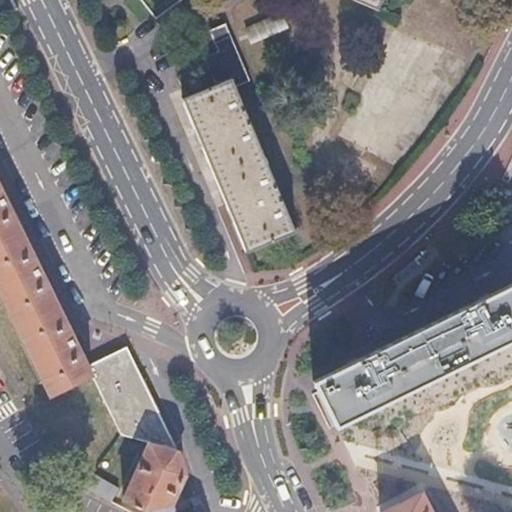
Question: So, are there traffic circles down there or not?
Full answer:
Yes, a traffic circle is visible in the scene.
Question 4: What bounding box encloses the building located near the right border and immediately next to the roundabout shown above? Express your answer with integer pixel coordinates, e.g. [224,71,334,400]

[314,282,512,430]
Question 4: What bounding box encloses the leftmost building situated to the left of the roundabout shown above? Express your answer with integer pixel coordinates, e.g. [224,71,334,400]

[0,182,96,400]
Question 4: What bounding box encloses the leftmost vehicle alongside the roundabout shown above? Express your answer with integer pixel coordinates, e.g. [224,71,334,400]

[172,286,191,308]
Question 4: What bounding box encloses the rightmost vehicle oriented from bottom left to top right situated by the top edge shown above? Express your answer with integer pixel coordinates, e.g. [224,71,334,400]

[134,20,156,40]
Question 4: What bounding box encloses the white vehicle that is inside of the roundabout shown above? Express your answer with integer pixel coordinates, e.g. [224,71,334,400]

[198,336,215,358]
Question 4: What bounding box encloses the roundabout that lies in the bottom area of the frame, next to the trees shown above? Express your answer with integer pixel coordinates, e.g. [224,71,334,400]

[185,286,287,388]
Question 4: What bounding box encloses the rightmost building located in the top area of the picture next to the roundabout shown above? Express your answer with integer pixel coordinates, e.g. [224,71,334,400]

[184,80,295,252]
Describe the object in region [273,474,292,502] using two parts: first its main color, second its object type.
white vehicle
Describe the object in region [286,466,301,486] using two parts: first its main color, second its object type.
white car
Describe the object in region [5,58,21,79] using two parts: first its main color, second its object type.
white car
